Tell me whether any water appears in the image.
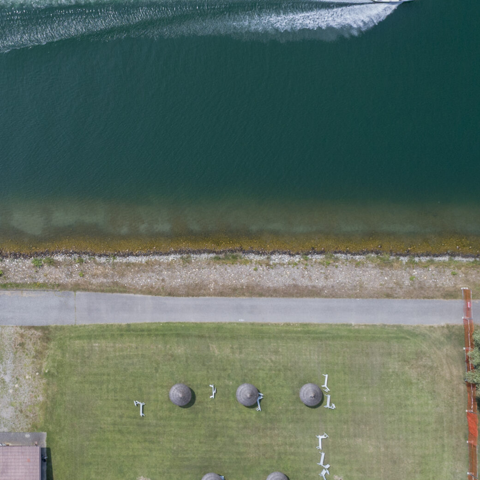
Yes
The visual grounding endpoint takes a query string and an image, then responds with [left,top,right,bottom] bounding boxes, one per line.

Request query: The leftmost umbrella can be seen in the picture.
[168,384,192,406]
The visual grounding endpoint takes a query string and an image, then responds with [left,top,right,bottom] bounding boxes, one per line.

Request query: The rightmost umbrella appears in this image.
[299,383,322,406]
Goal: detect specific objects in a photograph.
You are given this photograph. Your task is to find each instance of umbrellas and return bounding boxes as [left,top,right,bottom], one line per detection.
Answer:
[299,383,322,406]
[267,472,287,480]
[202,473,223,480]
[235,384,258,406]
[168,384,192,406]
